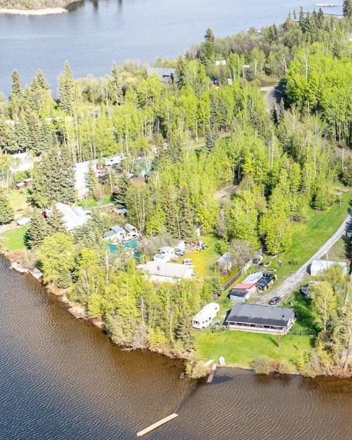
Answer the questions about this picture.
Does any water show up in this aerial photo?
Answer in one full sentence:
Yes, the picture does contain water.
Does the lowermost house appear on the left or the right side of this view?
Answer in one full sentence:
It is on the right.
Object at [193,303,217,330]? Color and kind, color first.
white vehicle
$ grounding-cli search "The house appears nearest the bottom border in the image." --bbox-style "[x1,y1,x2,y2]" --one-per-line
[225,304,300,339]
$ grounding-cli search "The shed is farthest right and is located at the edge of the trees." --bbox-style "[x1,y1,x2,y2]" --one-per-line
[312,259,351,278]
